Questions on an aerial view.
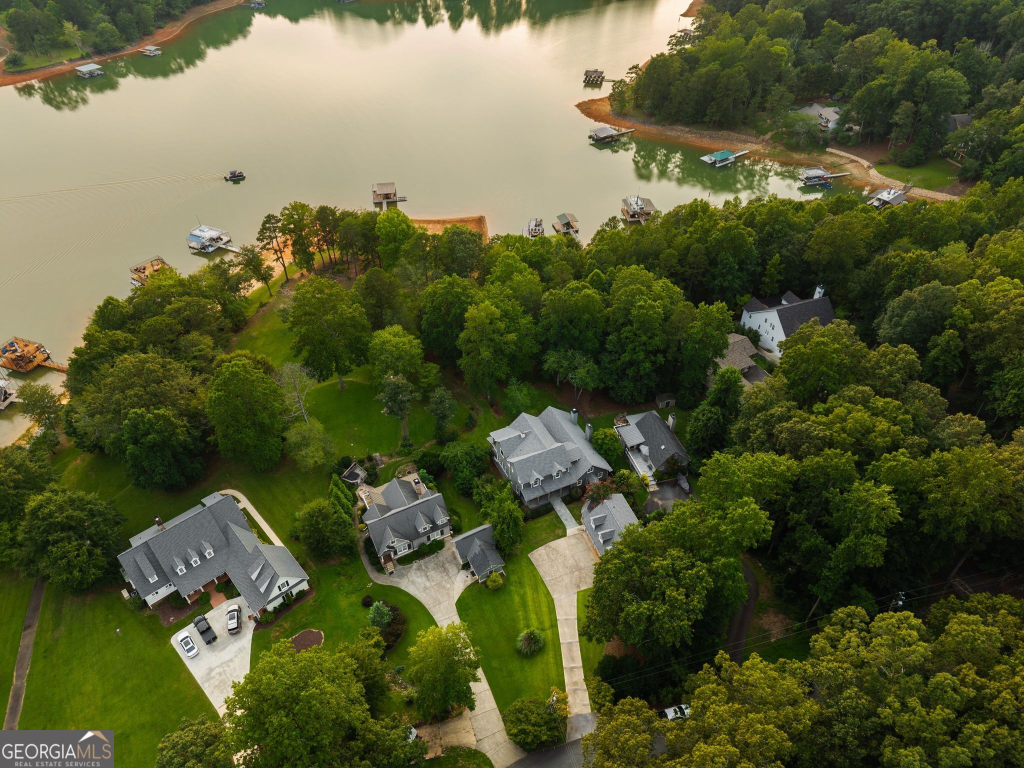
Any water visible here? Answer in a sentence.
Yes, the picture does contain water.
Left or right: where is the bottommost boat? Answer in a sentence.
The bottommost boat is on the right side of the image.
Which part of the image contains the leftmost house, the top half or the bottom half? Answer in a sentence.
It is in the bottom half that the leftmost house appears.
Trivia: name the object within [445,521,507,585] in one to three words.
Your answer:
building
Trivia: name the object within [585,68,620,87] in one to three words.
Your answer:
pier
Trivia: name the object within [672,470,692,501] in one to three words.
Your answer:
boat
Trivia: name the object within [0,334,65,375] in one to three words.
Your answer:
pier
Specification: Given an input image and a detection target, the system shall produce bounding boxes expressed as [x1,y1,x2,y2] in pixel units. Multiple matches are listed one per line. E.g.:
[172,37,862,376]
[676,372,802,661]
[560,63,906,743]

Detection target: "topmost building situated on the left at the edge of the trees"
[371,180,408,204]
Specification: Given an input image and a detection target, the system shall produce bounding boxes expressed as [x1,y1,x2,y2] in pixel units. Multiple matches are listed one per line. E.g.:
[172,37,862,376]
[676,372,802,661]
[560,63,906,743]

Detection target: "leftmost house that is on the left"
[118,489,309,621]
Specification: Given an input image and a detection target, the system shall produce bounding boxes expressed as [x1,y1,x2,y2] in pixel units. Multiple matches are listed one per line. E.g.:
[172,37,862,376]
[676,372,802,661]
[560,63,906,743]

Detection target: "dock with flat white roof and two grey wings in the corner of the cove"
[866,184,914,212]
